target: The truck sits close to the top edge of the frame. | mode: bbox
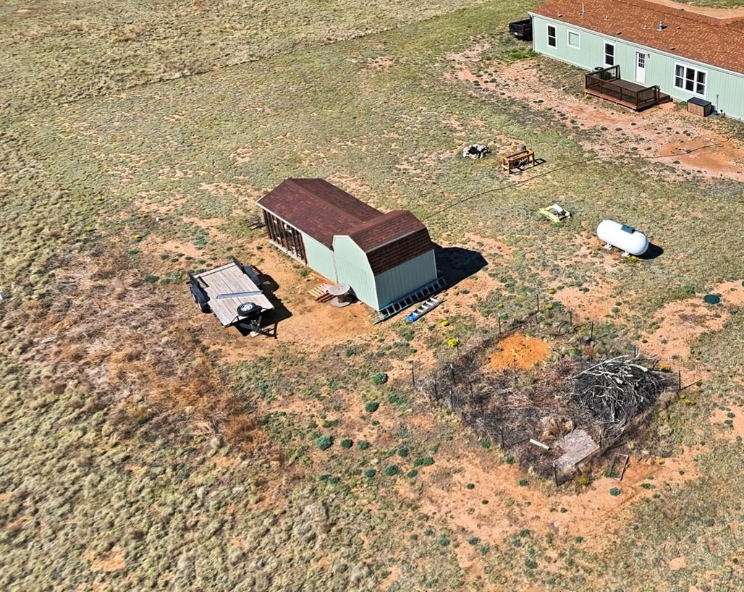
[510,20,531,42]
